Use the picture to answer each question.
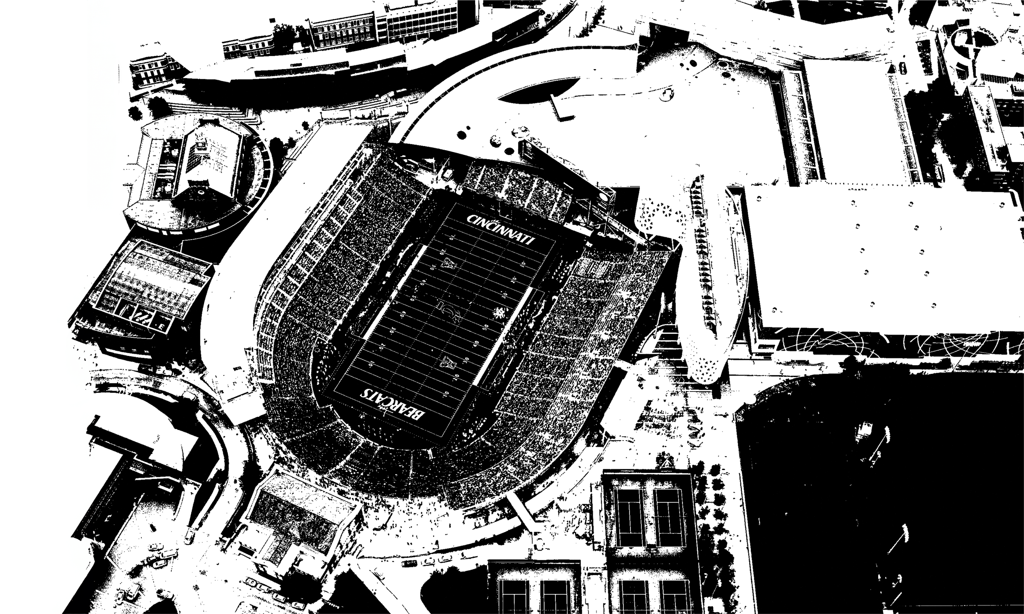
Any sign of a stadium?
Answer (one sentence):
Yes, a stadium can be made out from above.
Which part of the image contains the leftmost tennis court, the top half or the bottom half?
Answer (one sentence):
You can find the leftmost tennis court in the bottom half.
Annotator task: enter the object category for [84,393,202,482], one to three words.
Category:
building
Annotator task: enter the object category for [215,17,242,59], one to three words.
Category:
building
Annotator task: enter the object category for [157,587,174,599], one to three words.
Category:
vehicle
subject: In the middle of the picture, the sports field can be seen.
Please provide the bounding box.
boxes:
[309,179,586,478]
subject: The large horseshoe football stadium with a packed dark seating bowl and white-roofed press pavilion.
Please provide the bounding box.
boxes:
[200,125,676,511]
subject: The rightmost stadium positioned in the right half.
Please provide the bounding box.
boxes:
[739,180,1024,360]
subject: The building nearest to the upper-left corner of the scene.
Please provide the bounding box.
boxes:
[123,32,170,81]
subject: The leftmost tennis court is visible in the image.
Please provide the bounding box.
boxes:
[498,580,531,614]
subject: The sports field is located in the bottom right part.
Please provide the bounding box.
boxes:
[735,372,1024,614]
